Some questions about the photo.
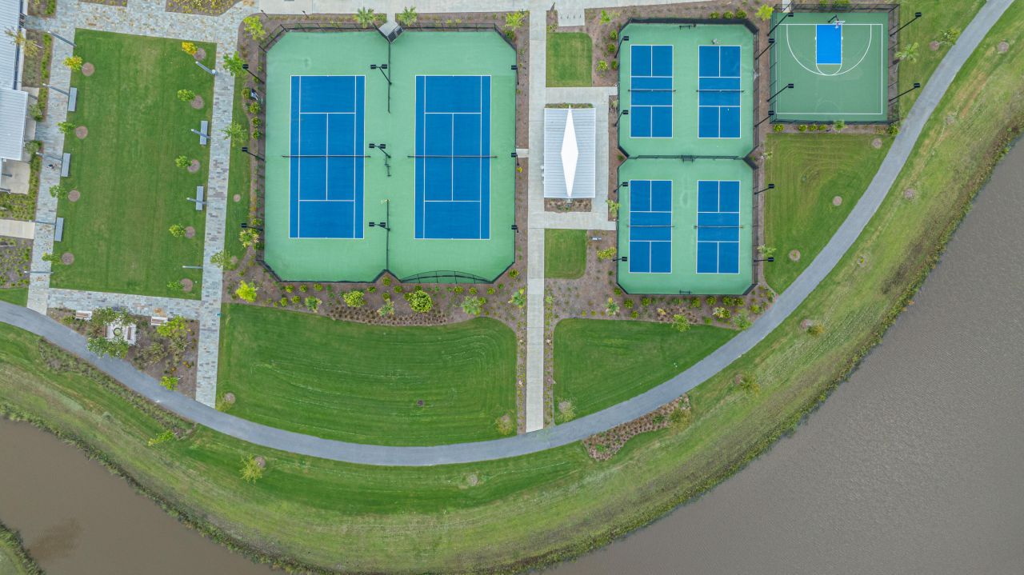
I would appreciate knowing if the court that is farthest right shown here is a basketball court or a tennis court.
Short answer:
basketball court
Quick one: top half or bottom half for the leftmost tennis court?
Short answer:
top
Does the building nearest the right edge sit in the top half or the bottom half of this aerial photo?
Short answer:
top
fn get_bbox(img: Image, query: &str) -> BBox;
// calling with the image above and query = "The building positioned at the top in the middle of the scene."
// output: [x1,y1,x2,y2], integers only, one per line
[543,106,597,205]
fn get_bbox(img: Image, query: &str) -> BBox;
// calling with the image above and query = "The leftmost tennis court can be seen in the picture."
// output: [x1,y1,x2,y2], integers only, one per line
[264,31,388,281]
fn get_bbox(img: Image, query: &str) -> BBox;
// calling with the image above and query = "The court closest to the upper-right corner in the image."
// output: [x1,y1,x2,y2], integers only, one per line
[770,12,888,123]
